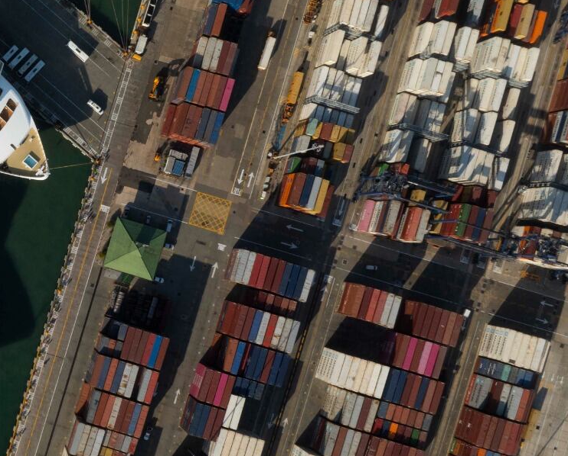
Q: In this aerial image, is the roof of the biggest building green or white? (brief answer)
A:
green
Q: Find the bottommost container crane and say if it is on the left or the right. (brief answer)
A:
right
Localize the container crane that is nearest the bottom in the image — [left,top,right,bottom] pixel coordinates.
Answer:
[472,210,568,263]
